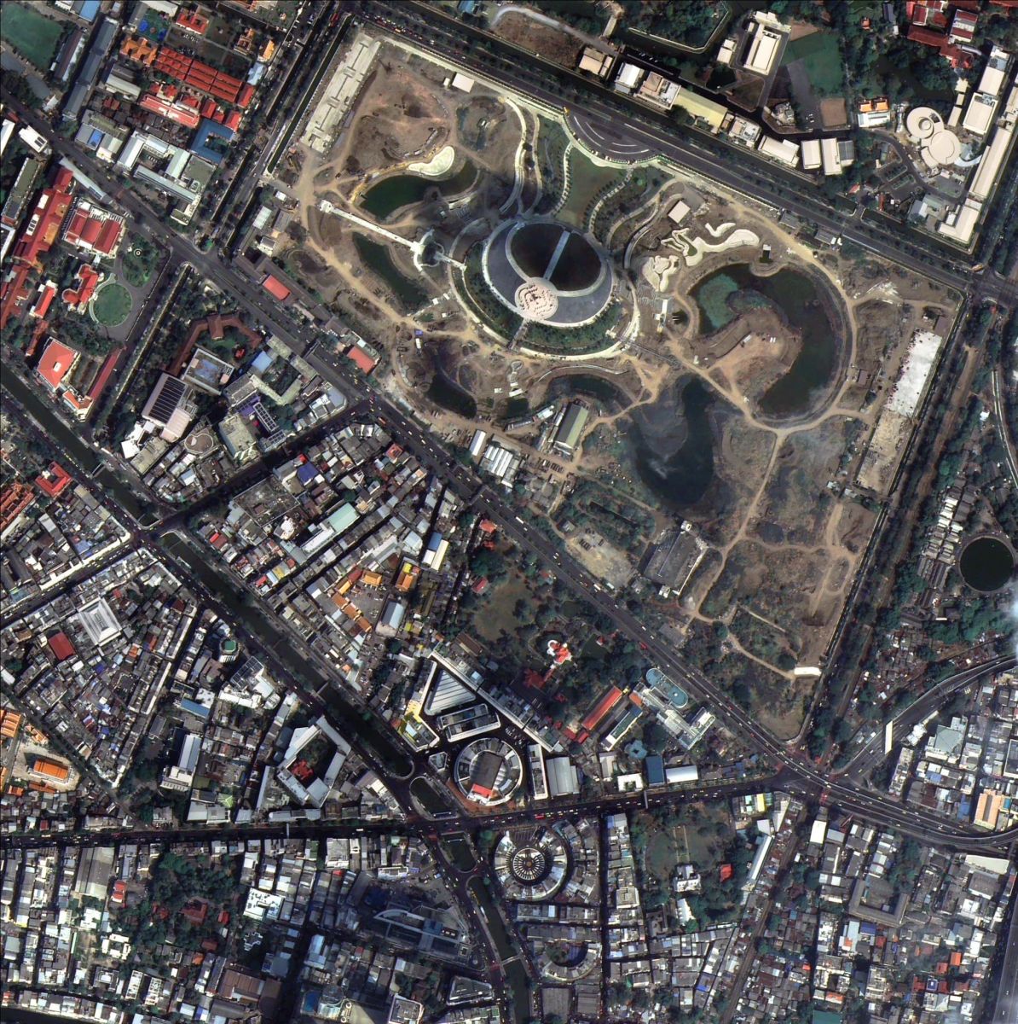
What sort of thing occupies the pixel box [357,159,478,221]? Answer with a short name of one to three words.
pond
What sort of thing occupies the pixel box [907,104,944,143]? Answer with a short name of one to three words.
building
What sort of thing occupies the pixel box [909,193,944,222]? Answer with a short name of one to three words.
shed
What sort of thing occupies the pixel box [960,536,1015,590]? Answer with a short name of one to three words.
pond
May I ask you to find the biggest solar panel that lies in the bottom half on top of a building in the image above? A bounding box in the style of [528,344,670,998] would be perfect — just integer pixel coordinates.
[234,660,260,688]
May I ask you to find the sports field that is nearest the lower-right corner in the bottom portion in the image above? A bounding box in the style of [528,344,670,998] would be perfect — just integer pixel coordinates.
[644,823,721,875]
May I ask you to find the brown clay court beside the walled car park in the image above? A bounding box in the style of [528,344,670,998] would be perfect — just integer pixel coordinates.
[822,98,847,127]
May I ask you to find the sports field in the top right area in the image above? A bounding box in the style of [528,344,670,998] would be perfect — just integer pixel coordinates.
[786,30,845,92]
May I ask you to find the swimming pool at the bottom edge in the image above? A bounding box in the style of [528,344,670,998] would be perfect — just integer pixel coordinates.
[303,990,320,1014]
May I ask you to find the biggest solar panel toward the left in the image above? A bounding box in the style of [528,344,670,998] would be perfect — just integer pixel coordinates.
[151,378,186,419]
